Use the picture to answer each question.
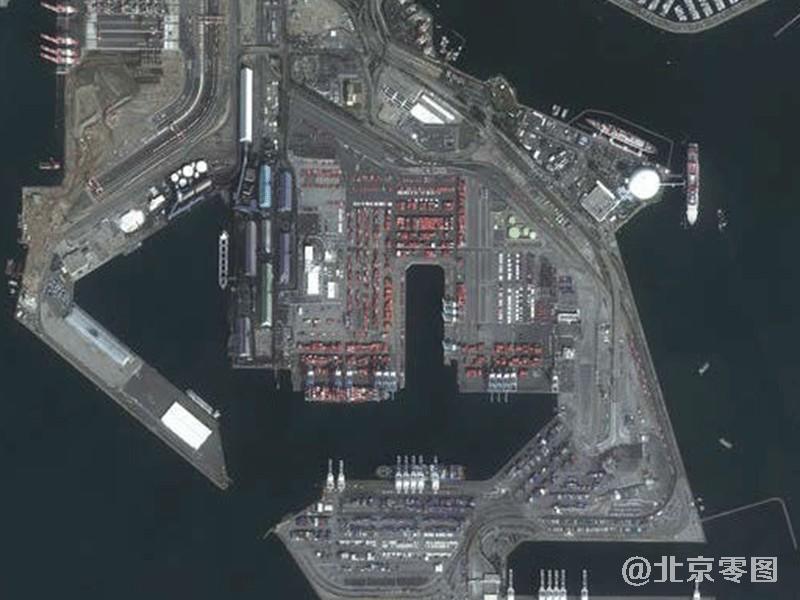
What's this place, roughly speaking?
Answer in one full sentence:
This image shows a port.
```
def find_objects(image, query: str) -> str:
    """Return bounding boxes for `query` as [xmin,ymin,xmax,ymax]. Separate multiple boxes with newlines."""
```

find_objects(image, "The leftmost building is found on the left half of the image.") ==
[66,308,131,364]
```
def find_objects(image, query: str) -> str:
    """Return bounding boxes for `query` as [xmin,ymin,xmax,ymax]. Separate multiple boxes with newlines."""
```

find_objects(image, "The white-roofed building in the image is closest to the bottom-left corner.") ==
[163,402,212,451]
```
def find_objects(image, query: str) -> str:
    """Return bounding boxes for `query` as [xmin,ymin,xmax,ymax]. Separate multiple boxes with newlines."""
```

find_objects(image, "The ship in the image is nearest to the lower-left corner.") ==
[186,390,217,416]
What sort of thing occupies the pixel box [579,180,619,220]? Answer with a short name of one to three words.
building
